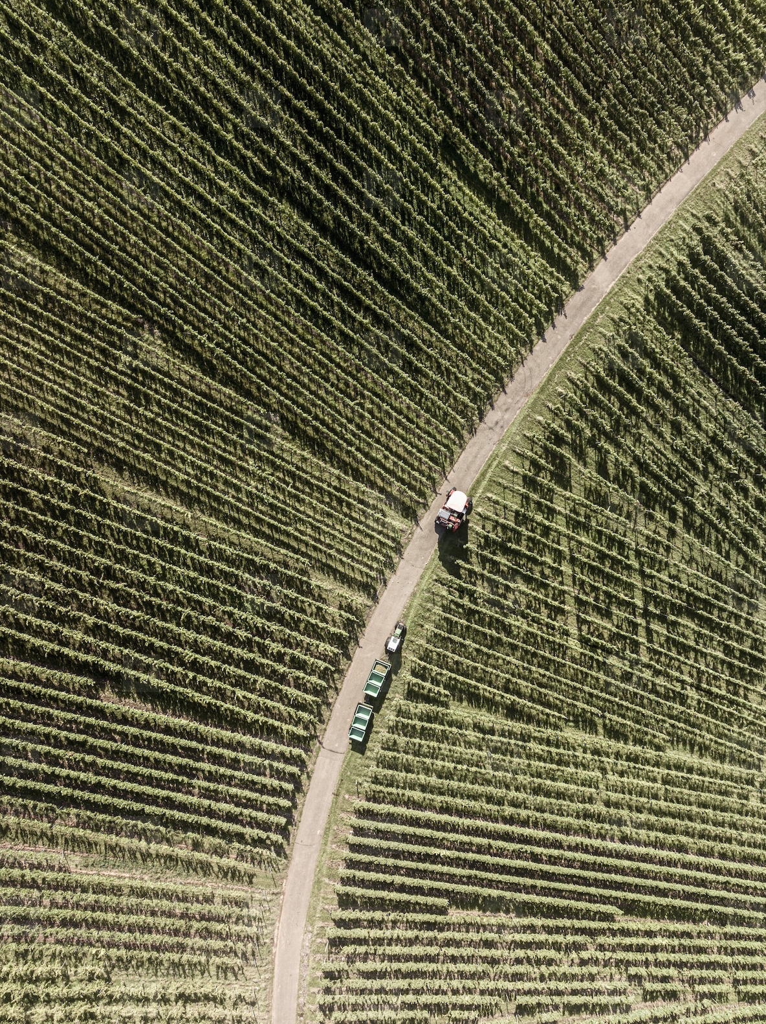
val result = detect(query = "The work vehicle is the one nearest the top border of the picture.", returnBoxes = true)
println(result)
[434,486,474,534]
